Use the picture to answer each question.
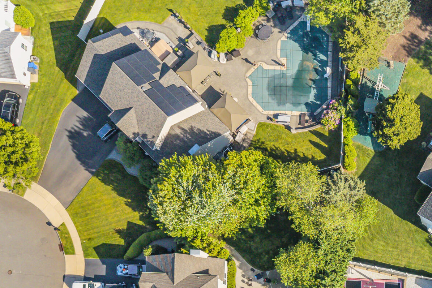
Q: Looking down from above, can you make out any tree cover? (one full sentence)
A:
Yes, tree cover shows up in the scene.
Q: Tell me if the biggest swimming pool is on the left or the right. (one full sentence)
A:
The biggest swimming pool appears in the right half of the scene.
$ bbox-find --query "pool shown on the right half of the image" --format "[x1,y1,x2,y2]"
[242,17,332,115]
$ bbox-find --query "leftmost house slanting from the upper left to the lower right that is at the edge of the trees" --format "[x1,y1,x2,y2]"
[75,25,235,166]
